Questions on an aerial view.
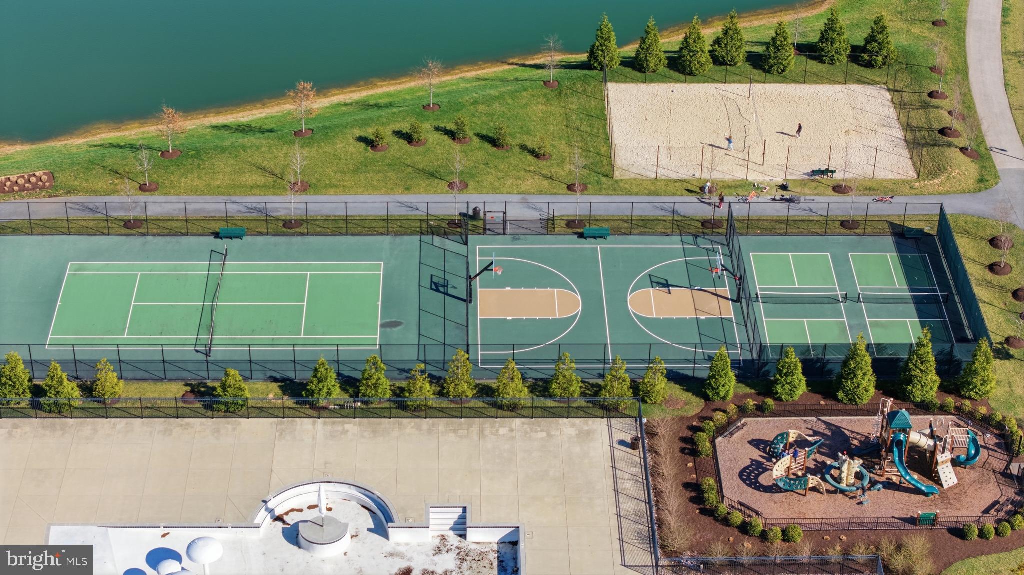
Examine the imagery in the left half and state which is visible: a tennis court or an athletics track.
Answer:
tennis court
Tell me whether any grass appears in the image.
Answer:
Yes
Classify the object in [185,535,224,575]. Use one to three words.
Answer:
fountain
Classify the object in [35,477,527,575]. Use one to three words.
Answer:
swimming pool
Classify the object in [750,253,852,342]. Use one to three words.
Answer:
sports court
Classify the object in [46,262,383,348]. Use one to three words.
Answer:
tennis court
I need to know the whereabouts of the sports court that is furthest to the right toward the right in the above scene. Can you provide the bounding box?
[848,253,956,342]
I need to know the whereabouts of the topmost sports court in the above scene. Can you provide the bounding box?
[608,83,918,178]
